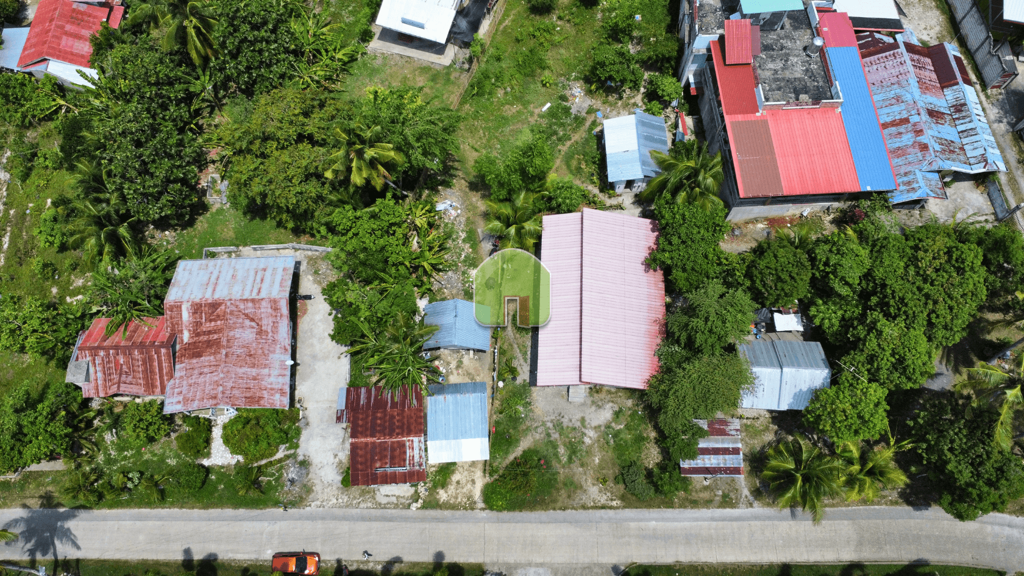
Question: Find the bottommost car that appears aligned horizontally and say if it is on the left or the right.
left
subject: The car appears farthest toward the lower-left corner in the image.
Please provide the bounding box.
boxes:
[270,554,319,576]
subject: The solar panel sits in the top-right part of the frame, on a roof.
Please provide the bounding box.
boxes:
[756,13,784,30]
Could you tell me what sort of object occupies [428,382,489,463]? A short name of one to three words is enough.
shed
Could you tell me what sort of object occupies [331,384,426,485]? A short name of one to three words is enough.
shed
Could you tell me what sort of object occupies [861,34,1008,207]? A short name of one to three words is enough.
house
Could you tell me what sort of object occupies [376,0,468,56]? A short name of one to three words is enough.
house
